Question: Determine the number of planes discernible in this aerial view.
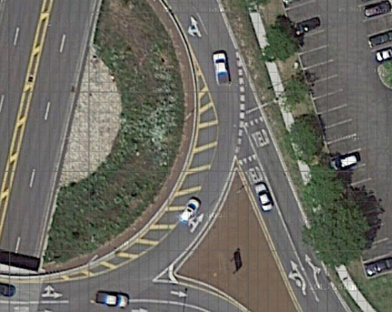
0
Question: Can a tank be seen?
No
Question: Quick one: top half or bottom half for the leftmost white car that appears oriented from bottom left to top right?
bottom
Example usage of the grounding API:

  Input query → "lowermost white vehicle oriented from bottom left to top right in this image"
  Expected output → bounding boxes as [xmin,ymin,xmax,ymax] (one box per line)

[181,195,202,223]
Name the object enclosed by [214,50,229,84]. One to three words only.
vehicle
